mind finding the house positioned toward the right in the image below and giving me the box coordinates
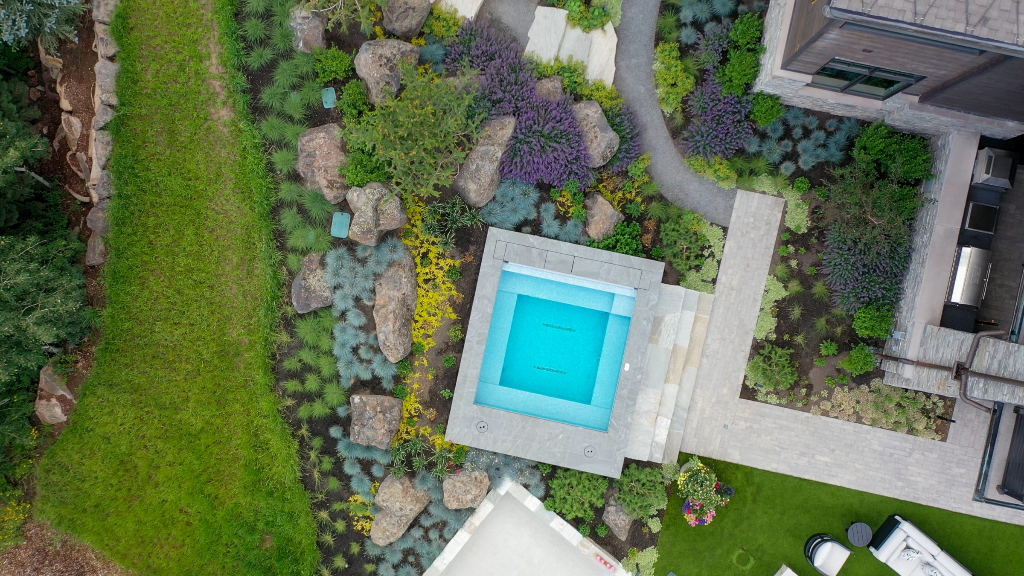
[755,0,1024,151]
